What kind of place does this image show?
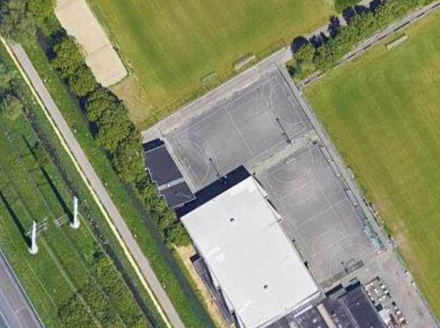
sports ground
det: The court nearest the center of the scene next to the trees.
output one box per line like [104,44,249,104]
[163,71,315,196]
